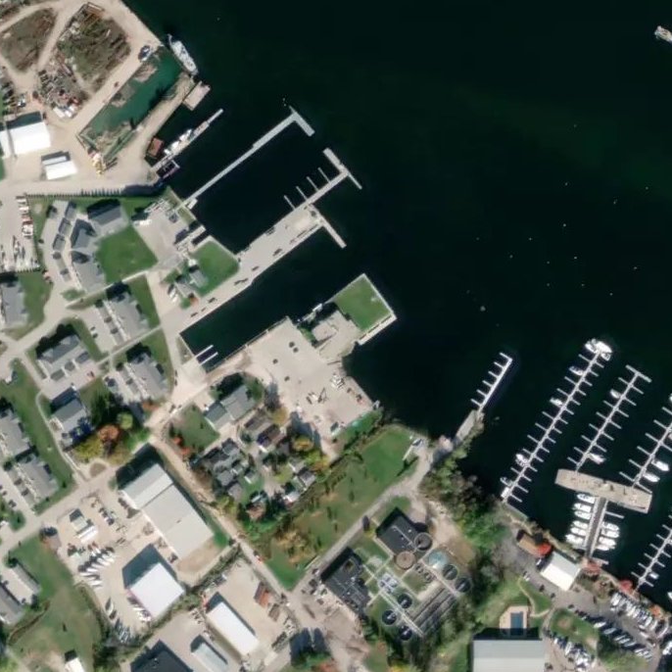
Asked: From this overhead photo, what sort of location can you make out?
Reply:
port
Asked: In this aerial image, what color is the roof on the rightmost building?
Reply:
white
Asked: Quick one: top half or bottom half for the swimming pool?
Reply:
bottom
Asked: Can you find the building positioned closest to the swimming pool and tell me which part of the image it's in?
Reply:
bottom right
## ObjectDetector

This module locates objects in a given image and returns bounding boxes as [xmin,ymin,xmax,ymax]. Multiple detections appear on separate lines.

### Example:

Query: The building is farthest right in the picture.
[540,551,581,592]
